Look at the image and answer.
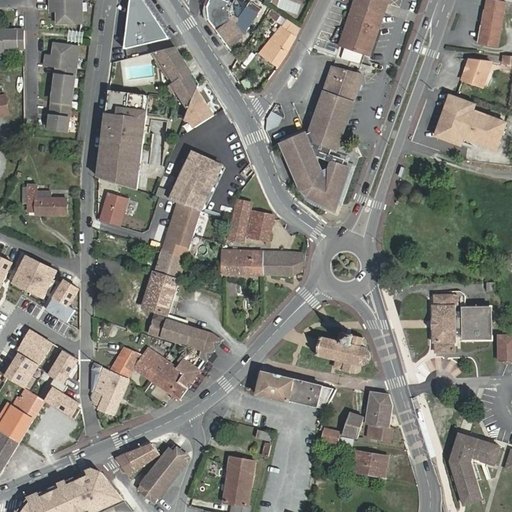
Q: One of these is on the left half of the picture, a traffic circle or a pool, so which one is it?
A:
pool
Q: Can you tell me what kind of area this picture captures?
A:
residential area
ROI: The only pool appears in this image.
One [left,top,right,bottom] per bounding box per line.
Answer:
[122,52,156,87]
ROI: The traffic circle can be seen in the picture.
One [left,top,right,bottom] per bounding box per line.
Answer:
[316,236,376,297]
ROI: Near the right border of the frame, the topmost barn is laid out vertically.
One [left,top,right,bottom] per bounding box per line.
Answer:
[478,0,506,48]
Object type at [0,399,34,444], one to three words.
house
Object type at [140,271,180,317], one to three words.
barn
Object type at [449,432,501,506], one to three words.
building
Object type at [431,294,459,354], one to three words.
building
